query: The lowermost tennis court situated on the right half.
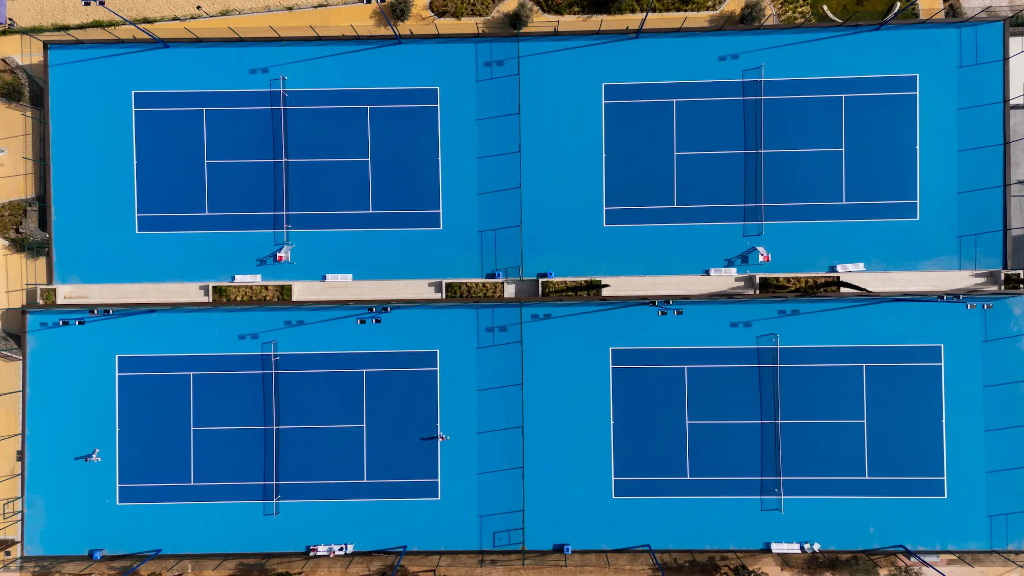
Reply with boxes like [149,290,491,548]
[522,297,1024,551]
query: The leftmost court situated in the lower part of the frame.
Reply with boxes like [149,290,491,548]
[24,304,524,555]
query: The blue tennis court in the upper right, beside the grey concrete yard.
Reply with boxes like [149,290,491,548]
[519,20,1005,277]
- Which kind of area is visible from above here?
sports ground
